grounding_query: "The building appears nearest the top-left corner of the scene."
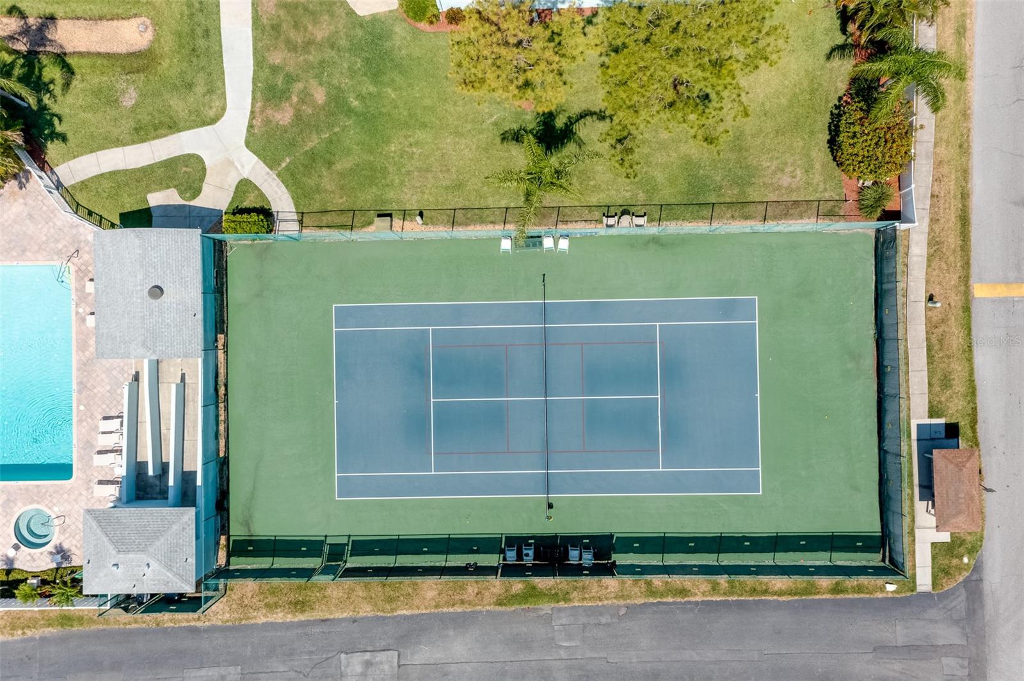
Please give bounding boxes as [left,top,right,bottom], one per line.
[93,227,216,359]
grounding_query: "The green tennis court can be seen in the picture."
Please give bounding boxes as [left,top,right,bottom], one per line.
[228,230,881,565]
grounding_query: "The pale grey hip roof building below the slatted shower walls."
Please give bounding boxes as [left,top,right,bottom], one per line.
[83,502,203,595]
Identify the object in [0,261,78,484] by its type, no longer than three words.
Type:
swimming pool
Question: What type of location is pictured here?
sports ground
